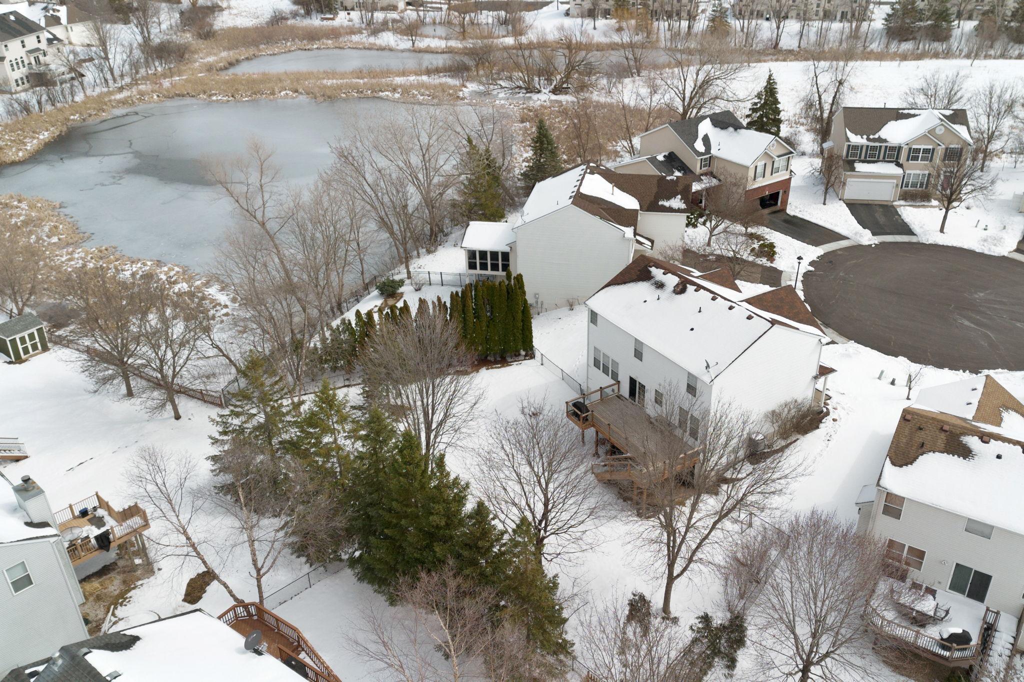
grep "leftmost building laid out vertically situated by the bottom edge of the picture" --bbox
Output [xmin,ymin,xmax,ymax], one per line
[0,471,90,682]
